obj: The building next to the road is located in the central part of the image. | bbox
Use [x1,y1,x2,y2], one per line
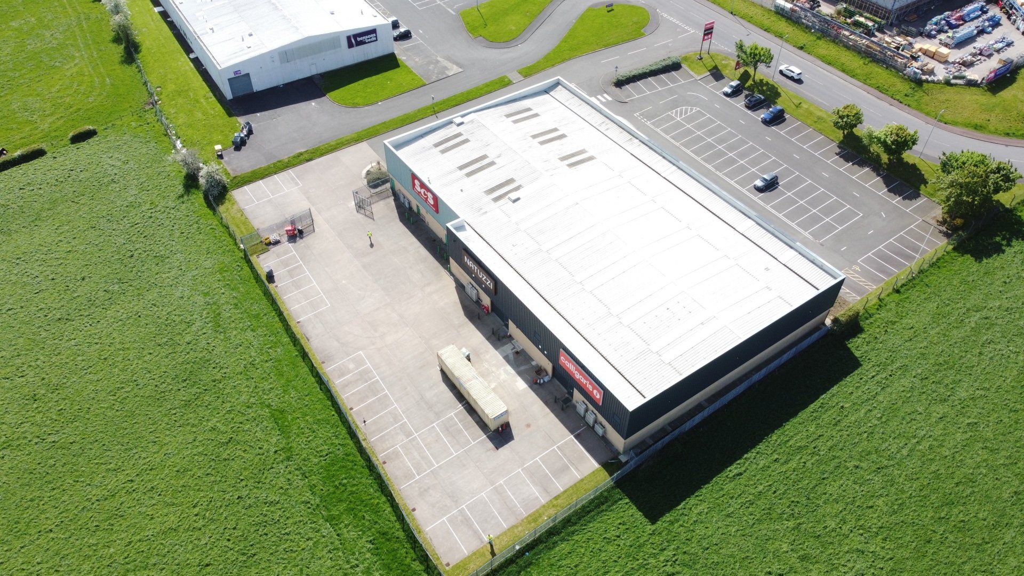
[384,76,845,452]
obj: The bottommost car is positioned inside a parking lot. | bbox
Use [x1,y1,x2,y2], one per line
[751,170,779,191]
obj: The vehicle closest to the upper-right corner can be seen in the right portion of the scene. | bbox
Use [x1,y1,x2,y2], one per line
[778,67,804,82]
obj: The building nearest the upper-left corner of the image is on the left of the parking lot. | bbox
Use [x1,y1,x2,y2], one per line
[151,0,395,99]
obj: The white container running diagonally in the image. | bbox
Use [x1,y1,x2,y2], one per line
[437,344,509,431]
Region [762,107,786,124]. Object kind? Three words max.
car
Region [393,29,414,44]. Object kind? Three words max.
car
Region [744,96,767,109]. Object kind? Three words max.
vehicle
